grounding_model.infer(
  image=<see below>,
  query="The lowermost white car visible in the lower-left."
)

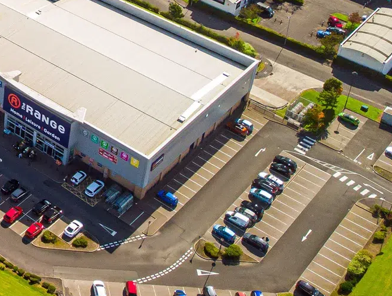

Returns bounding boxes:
[92,279,107,296]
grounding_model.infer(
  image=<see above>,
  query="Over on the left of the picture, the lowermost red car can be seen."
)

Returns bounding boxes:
[123,280,138,296]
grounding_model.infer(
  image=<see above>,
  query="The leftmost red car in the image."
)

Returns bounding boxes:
[2,204,25,225]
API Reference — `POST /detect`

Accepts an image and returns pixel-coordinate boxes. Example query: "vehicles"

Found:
[123,280,138,296]
[337,113,360,127]
[9,188,29,203]
[25,223,44,240]
[203,286,218,296]
[241,234,271,256]
[235,205,262,225]
[239,198,266,217]
[256,172,284,189]
[273,156,300,172]
[212,227,238,244]
[156,190,181,208]
[252,178,279,197]
[2,204,25,225]
[327,21,344,30]
[63,219,85,239]
[316,28,326,38]
[234,115,258,131]
[327,16,343,26]
[225,207,253,230]
[0,177,22,196]
[92,279,107,296]
[173,291,187,296]
[227,123,248,136]
[247,189,275,207]
[269,161,293,177]
[294,281,322,296]
[84,179,105,198]
[42,204,65,225]
[68,170,89,187]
